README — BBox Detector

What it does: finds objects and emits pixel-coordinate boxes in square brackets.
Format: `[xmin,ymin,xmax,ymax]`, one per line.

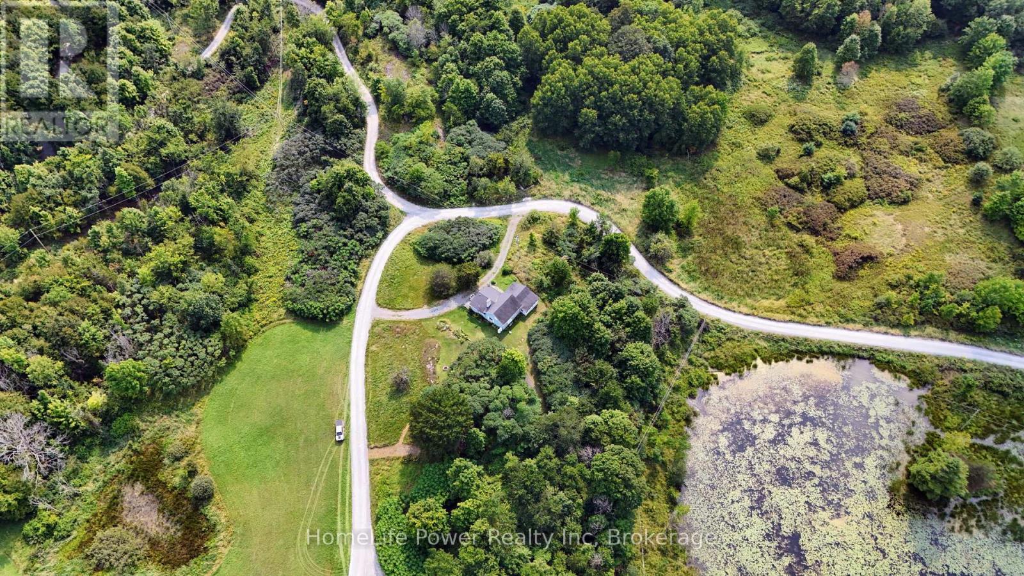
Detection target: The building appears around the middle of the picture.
[465,283,541,329]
